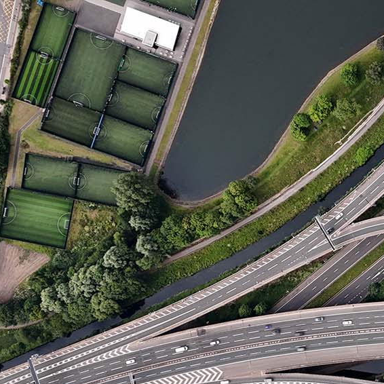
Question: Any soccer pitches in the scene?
Yes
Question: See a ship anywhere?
No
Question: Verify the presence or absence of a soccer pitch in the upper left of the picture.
Yes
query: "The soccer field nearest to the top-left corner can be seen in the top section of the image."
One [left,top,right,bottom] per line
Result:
[28,1,75,58]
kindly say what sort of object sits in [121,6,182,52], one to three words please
building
